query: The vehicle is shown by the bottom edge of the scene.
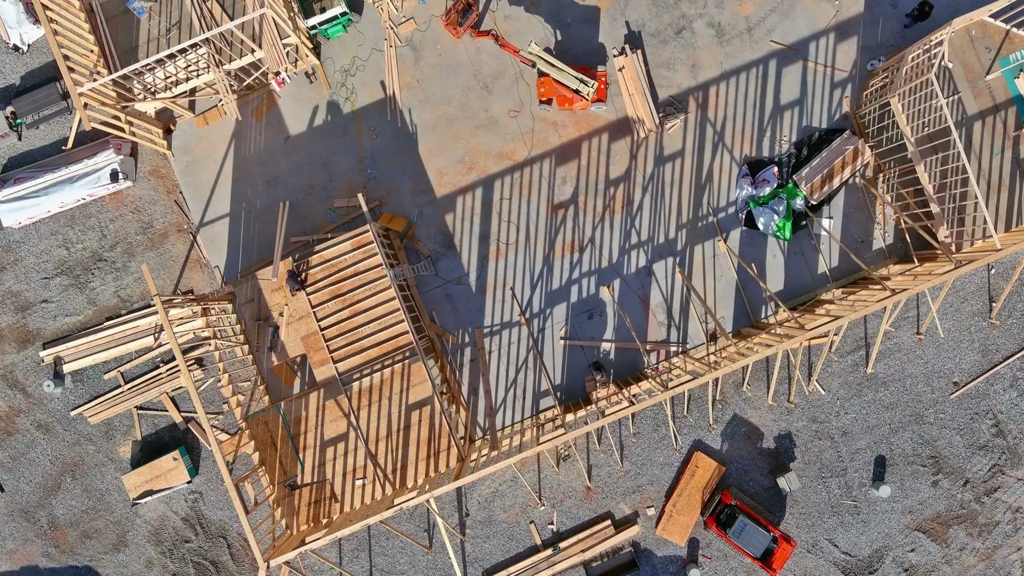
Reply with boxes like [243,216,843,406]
[697,485,800,576]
